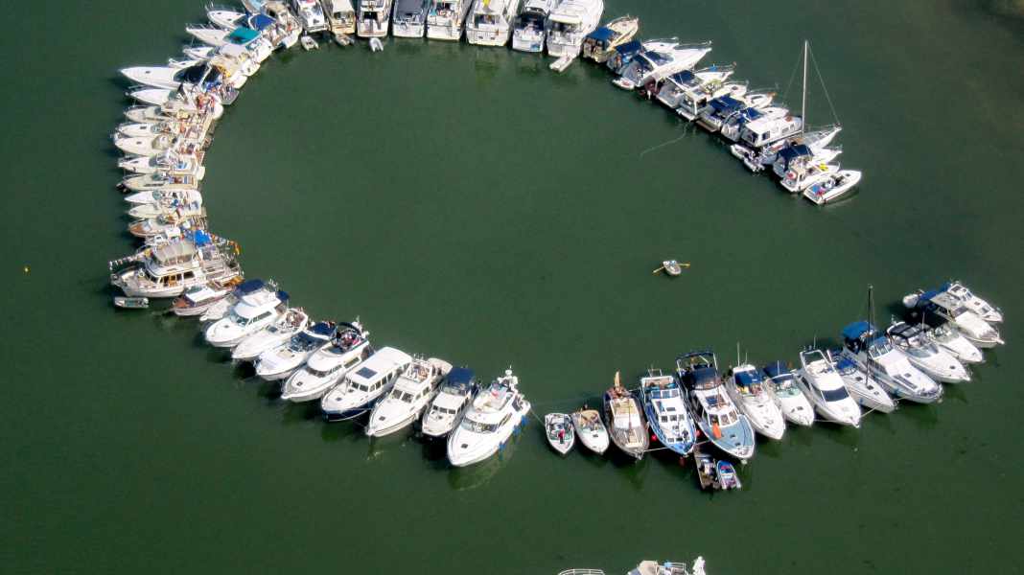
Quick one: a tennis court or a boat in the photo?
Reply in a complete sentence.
Looking from above, you can make out a boat.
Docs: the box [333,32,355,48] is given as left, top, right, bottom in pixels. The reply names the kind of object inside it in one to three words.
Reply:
boat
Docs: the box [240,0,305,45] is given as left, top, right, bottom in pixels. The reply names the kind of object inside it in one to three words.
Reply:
boat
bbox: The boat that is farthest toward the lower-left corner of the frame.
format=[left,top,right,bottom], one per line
[114,295,151,309]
